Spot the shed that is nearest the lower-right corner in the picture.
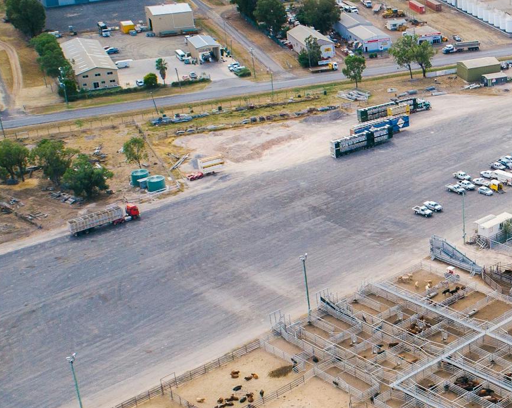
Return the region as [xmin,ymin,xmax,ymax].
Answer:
[472,212,512,249]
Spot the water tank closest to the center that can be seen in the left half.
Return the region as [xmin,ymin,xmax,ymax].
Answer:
[141,174,169,195]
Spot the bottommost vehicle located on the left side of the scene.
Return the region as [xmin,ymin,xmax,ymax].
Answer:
[61,203,144,238]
